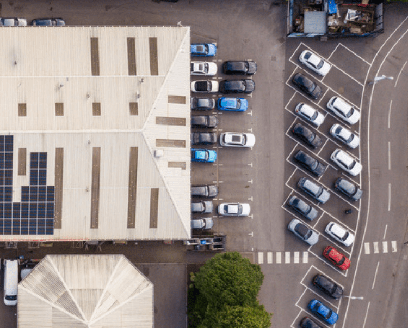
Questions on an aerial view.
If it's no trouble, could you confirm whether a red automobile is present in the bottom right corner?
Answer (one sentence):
Yes, there is a red automobile in the bottom right corner.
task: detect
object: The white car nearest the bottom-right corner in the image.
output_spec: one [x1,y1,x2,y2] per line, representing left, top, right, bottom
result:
[323,221,355,246]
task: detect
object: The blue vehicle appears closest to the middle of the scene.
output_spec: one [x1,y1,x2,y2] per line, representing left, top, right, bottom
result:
[191,148,217,163]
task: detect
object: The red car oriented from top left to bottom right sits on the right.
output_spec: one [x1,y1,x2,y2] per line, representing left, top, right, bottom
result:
[319,244,352,271]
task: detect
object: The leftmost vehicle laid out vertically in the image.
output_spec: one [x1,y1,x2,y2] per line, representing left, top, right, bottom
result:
[2,263,17,303]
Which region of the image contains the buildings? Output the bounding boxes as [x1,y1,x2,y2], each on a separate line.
[17,254,154,328]
[0,21,193,242]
